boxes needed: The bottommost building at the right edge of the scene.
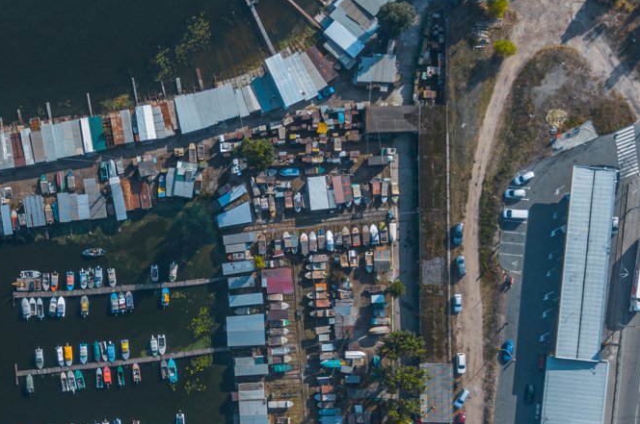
[536,355,608,424]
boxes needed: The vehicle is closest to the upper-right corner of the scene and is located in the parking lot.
[514,170,534,185]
